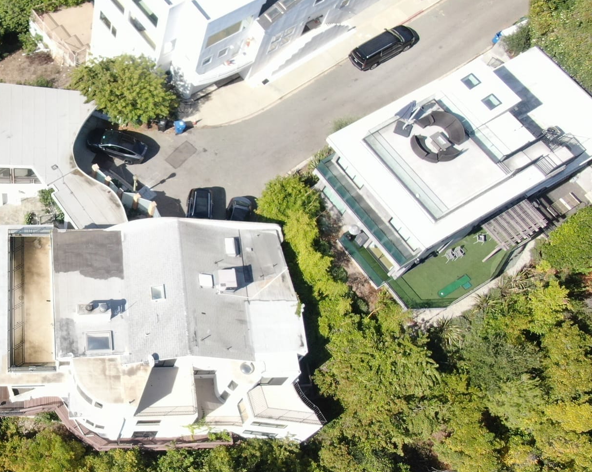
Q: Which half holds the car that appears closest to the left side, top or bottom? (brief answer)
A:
top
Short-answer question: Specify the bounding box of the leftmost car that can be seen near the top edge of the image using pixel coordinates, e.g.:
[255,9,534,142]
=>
[353,19,425,69]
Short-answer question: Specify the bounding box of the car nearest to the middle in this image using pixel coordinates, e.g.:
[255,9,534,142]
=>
[228,191,258,220]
